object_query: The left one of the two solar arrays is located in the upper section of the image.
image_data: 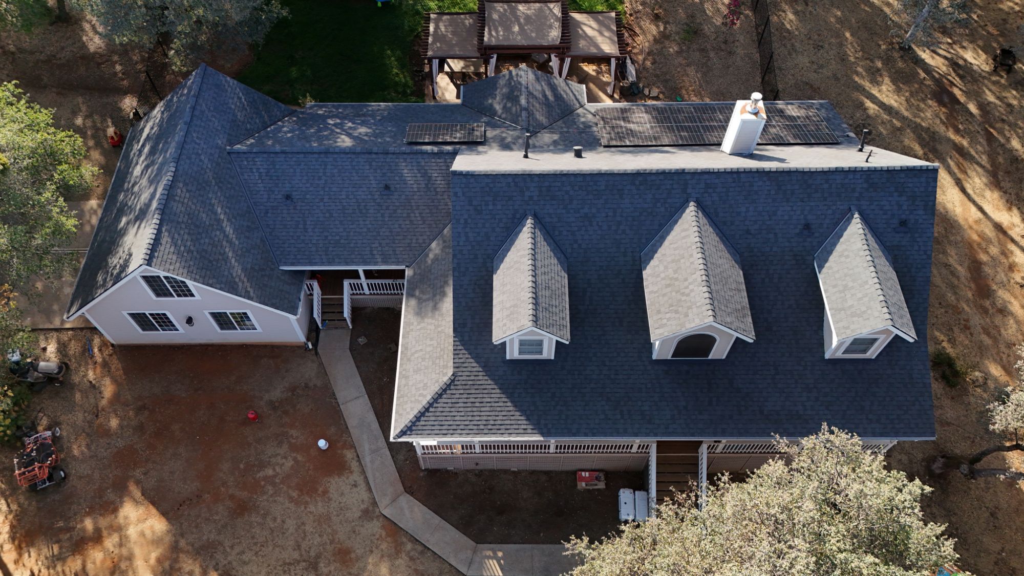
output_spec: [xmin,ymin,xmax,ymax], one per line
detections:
[403,120,486,143]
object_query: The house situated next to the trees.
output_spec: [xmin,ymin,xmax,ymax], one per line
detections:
[61,63,939,524]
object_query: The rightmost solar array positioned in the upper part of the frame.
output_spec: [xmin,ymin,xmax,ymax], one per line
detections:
[591,104,846,146]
